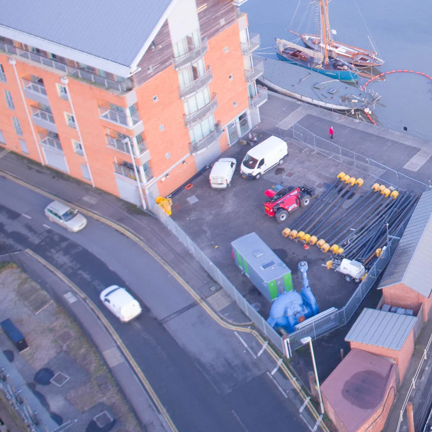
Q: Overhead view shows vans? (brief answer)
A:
Yes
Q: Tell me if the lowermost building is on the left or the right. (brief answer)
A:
right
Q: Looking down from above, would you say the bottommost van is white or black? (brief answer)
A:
white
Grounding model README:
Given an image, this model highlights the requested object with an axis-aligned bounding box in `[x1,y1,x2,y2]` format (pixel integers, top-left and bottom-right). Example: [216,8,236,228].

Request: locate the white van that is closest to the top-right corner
[245,136,286,176]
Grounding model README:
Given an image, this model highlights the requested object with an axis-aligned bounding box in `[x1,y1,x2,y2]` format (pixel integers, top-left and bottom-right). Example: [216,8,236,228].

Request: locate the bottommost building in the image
[321,349,399,432]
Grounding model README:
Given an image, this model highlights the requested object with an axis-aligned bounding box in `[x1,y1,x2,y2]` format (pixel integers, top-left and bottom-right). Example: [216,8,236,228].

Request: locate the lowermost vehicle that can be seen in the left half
[101,286,136,317]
